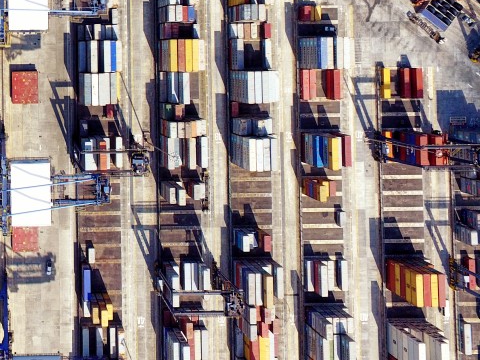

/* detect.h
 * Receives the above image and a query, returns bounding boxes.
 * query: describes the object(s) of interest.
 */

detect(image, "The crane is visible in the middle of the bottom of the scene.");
[154,261,247,321]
